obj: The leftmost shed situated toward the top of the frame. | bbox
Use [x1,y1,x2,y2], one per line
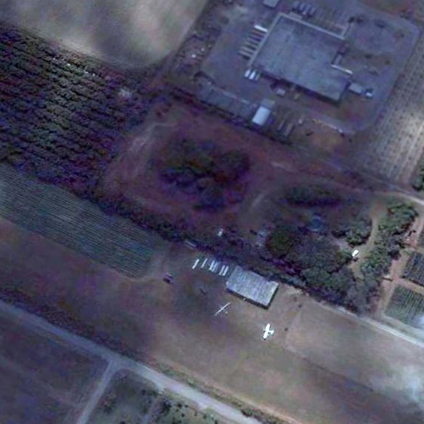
[196,80,253,117]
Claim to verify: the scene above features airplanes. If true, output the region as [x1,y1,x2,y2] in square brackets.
[215,300,229,318]
[263,324,275,338]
